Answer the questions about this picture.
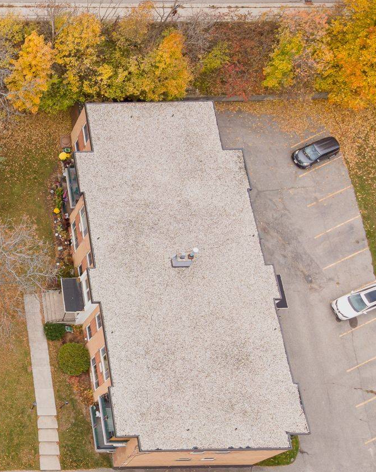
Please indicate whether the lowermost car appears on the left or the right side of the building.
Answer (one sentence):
The building has the lowermost car on its right side.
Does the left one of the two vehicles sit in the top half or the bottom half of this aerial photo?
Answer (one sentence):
Seen from above, the left one of the two vehicles lies in the top half of the view.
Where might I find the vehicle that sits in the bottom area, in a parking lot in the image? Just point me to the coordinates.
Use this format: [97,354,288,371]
[331,283,376,321]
